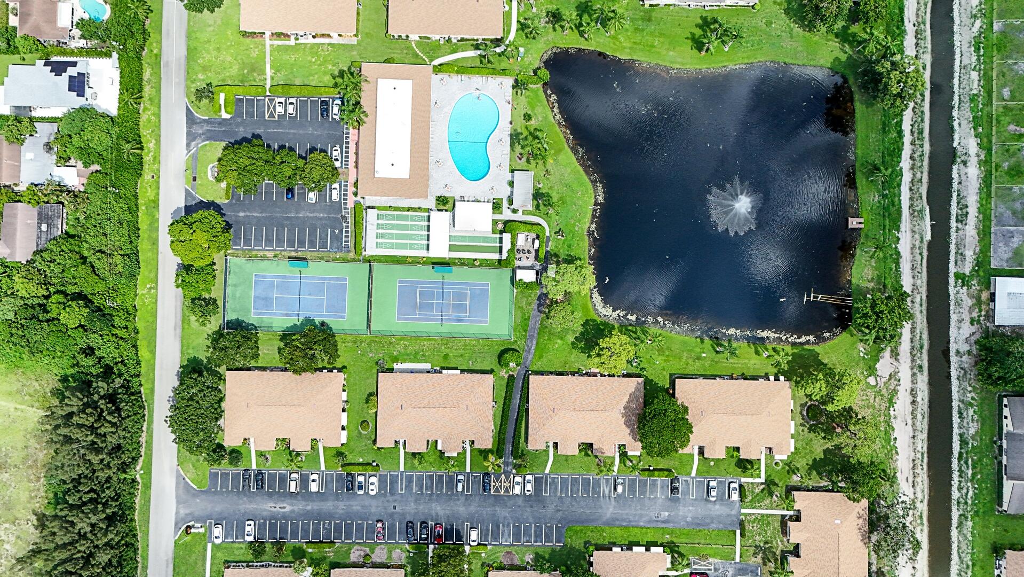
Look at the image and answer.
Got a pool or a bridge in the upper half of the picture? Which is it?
pool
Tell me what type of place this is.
residential area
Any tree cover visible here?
Yes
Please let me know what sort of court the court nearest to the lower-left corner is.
tennis court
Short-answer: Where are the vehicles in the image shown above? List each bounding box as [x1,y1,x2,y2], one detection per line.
[311,472,319,491]
[405,521,414,541]
[286,188,294,203]
[470,527,478,544]
[255,470,265,489]
[434,524,443,542]
[708,480,716,499]
[243,469,251,488]
[330,183,340,201]
[308,190,316,203]
[331,100,341,119]
[290,471,299,492]
[419,522,428,541]
[276,97,285,116]
[483,472,491,492]
[455,473,464,492]
[245,519,255,540]
[368,474,377,494]
[345,472,353,491]
[213,524,223,542]
[525,474,533,493]
[615,477,623,493]
[287,97,296,116]
[331,146,341,166]
[375,521,384,540]
[513,475,522,495]
[730,481,739,501]
[320,99,329,119]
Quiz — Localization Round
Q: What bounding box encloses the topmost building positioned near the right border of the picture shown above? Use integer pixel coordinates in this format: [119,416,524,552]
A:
[987,277,1024,325]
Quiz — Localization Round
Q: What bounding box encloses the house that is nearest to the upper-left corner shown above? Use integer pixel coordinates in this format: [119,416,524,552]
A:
[19,0,77,42]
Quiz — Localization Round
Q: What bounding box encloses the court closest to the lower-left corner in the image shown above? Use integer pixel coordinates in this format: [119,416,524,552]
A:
[223,259,368,335]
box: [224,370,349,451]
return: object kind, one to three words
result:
house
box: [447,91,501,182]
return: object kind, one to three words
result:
swimming pool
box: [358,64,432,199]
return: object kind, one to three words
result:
building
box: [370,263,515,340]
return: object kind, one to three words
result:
tennis court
